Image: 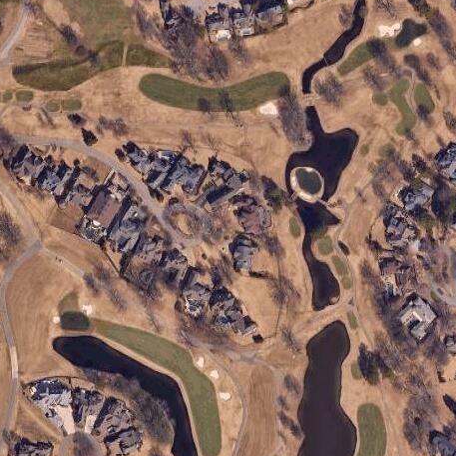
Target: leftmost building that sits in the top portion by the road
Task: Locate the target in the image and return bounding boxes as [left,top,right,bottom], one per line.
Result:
[6,146,42,187]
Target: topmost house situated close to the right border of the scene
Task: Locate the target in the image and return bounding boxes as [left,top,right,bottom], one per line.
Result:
[433,142,456,178]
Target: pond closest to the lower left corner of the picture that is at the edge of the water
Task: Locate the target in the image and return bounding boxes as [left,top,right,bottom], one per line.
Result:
[53,336,198,456]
